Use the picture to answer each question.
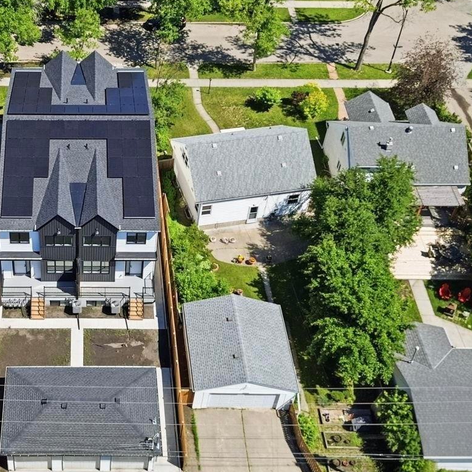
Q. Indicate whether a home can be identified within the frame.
Yes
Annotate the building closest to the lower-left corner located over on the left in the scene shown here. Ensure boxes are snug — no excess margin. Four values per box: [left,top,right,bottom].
[0,365,168,466]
